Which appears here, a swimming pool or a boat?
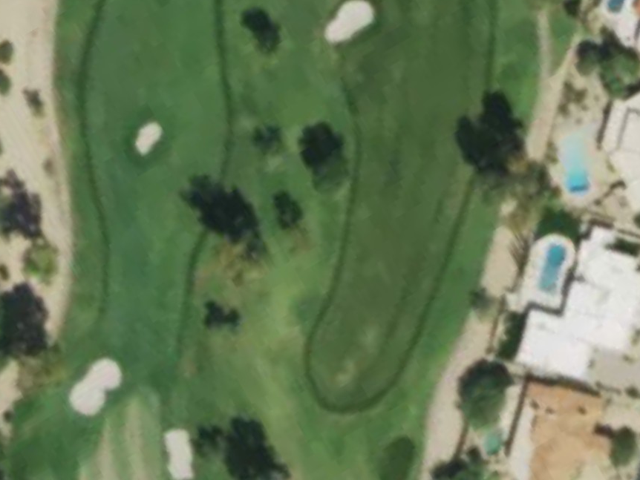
swimming pool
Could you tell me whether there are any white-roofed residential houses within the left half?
No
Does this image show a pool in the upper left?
No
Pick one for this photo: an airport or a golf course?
golf course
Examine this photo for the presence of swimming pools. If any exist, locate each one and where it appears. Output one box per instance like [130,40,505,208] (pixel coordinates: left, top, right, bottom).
[483,432,502,454]
[538,241,569,293]
[560,132,590,195]
[606,0,625,14]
